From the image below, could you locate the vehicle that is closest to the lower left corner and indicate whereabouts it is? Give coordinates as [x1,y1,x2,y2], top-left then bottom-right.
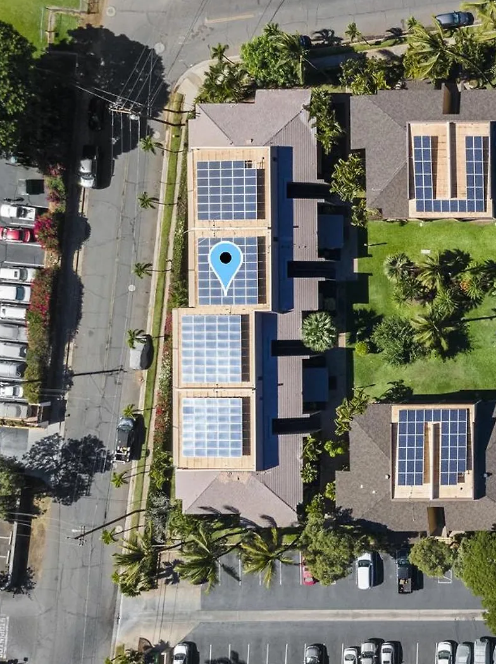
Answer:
[173,640,193,664]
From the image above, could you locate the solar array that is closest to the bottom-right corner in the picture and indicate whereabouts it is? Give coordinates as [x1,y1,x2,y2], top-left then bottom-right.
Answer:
[399,410,468,485]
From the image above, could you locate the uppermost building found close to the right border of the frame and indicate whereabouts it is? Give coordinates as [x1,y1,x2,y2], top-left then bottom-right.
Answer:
[352,79,496,224]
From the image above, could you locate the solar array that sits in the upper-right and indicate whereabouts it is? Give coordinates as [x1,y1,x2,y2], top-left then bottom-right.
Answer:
[414,136,484,212]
